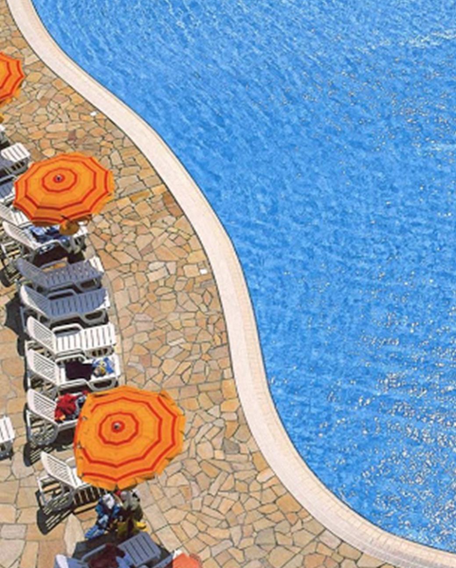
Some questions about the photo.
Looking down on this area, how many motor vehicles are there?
0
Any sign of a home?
No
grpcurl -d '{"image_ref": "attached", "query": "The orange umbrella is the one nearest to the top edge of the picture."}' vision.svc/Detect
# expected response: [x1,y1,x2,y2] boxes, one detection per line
[0,53,30,114]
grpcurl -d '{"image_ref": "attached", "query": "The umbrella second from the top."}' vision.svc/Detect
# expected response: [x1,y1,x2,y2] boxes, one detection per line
[16,148,115,262]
